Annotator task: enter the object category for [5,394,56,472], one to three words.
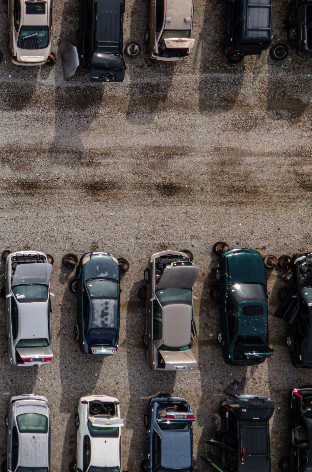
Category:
car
